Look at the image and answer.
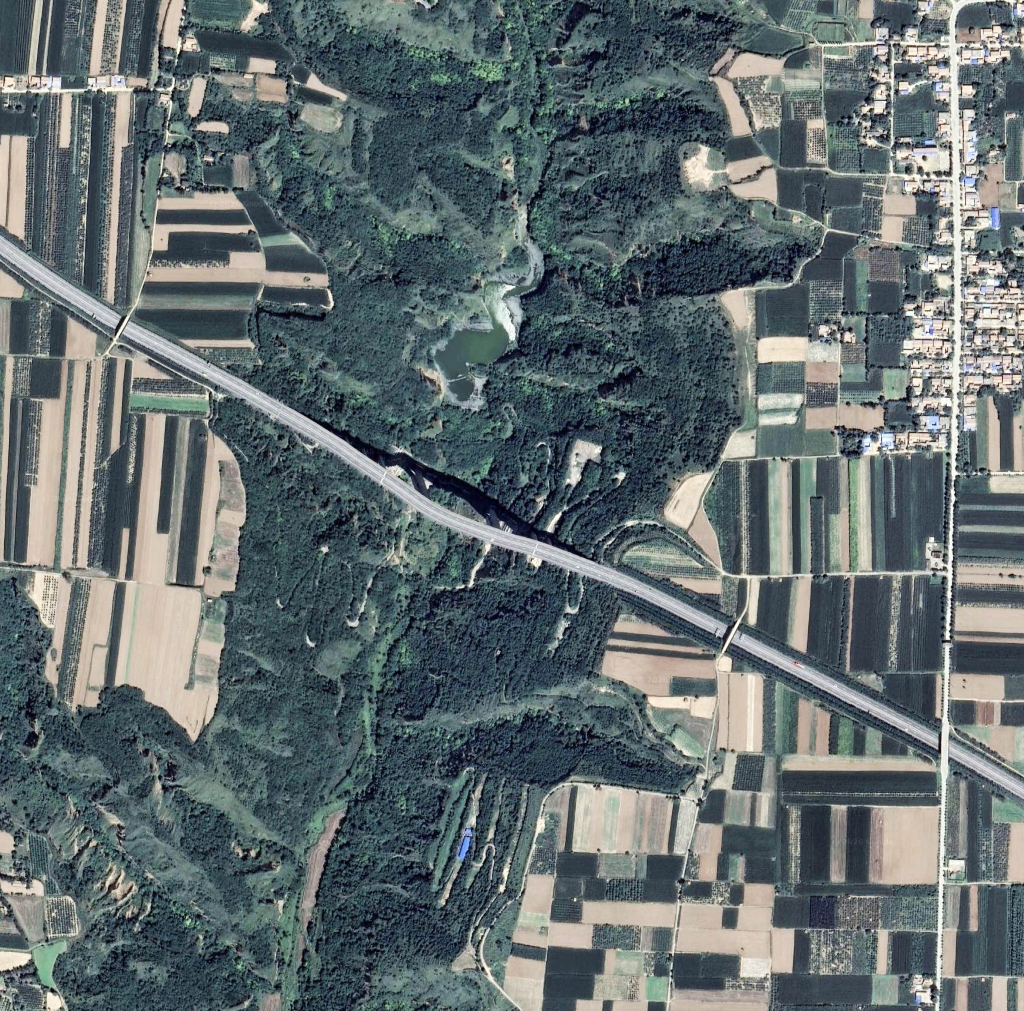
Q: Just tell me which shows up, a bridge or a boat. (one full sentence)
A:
It is a bridge that can be seen here.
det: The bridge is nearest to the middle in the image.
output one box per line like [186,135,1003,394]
[282,415,607,581]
